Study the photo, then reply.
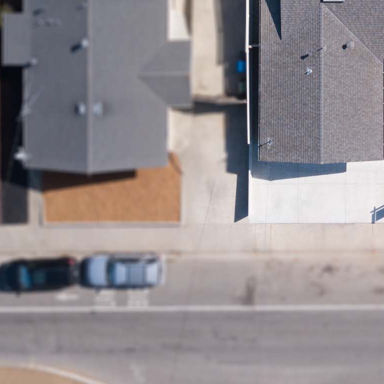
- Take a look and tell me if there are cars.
Yes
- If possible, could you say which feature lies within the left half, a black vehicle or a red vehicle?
black vehicle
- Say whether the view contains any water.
No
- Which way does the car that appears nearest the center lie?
from left to right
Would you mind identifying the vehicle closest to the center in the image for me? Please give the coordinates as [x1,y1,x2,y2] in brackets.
[87,253,165,291]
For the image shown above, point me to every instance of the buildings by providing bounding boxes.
[257,0,384,164]
[3,0,195,194]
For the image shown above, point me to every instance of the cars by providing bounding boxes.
[1,256,77,296]
[87,253,165,291]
